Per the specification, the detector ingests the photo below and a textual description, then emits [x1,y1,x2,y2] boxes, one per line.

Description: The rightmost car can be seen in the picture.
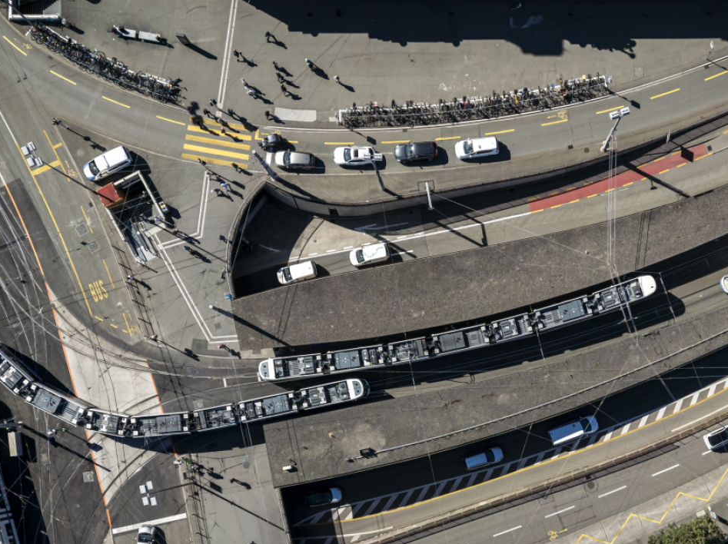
[701,424,728,451]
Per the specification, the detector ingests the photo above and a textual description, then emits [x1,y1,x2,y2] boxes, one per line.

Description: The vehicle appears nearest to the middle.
[349,242,390,264]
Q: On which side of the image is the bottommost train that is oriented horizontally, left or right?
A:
left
